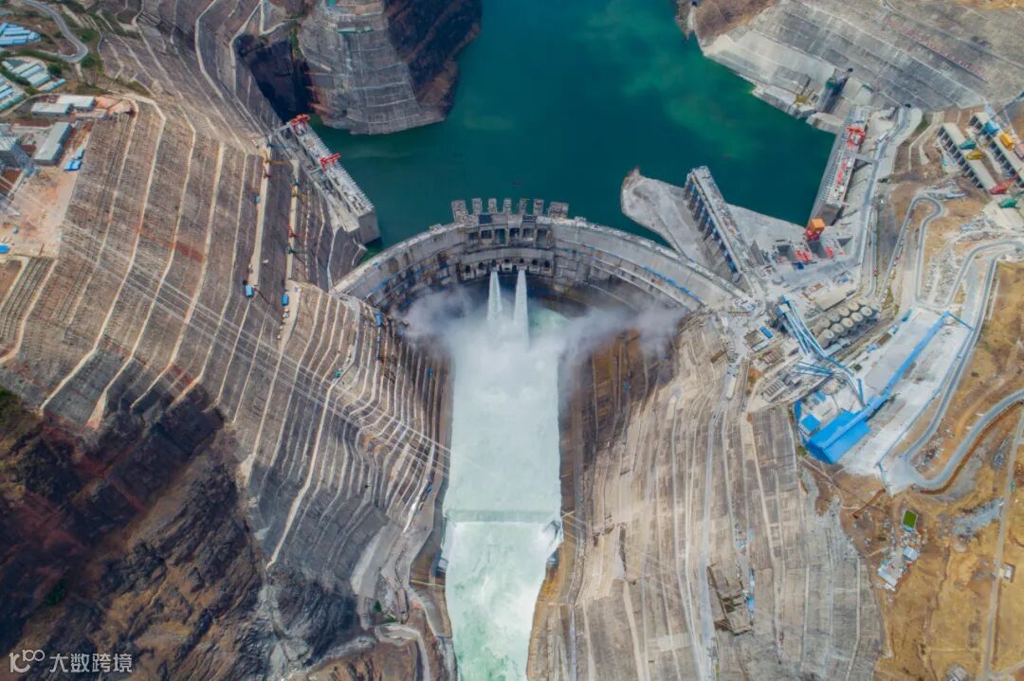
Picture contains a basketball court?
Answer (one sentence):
No, I can't see a single basketball court in this photo.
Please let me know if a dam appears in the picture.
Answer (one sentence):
Yes, the photo shows a dam.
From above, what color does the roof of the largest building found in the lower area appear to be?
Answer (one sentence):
The roof of the largest building found in the lower area is blue.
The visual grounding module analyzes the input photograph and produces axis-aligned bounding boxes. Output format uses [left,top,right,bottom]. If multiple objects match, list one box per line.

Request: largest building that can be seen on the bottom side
[802,412,867,469]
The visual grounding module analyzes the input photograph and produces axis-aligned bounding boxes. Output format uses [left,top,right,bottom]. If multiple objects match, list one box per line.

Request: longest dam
[332,203,765,345]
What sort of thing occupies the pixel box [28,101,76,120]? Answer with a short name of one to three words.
building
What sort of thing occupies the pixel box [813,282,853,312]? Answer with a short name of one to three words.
building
